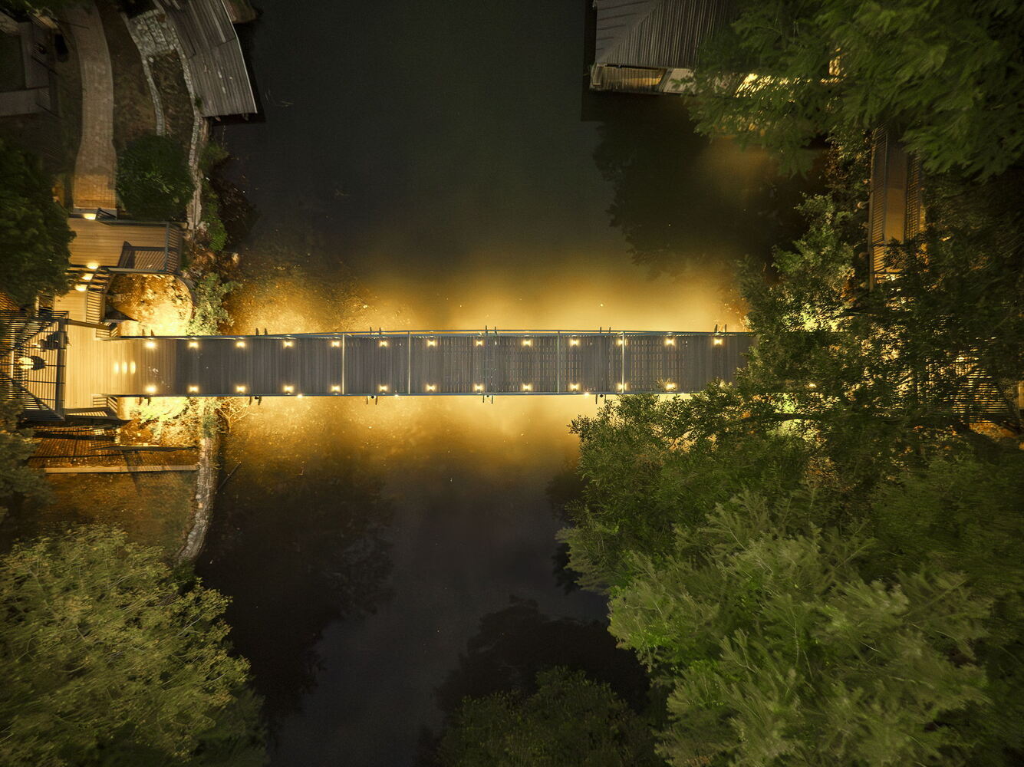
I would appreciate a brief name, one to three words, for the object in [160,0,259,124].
pier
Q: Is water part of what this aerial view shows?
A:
Yes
